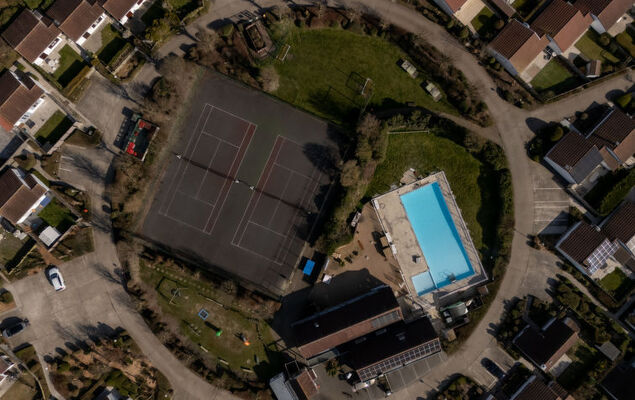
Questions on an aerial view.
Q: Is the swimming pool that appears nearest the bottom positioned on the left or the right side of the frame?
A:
right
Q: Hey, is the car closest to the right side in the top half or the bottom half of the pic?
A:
bottom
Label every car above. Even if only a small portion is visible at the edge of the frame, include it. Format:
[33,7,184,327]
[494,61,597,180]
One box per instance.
[484,360,507,381]
[2,322,27,339]
[50,267,65,291]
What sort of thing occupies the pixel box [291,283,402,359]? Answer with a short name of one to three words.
building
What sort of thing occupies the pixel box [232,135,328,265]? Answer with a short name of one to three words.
tennis court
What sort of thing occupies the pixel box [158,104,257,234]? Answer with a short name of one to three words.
tennis court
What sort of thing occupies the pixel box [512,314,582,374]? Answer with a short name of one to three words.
house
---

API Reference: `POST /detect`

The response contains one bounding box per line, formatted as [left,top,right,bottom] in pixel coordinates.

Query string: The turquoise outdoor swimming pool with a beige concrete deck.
[372,172,487,307]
